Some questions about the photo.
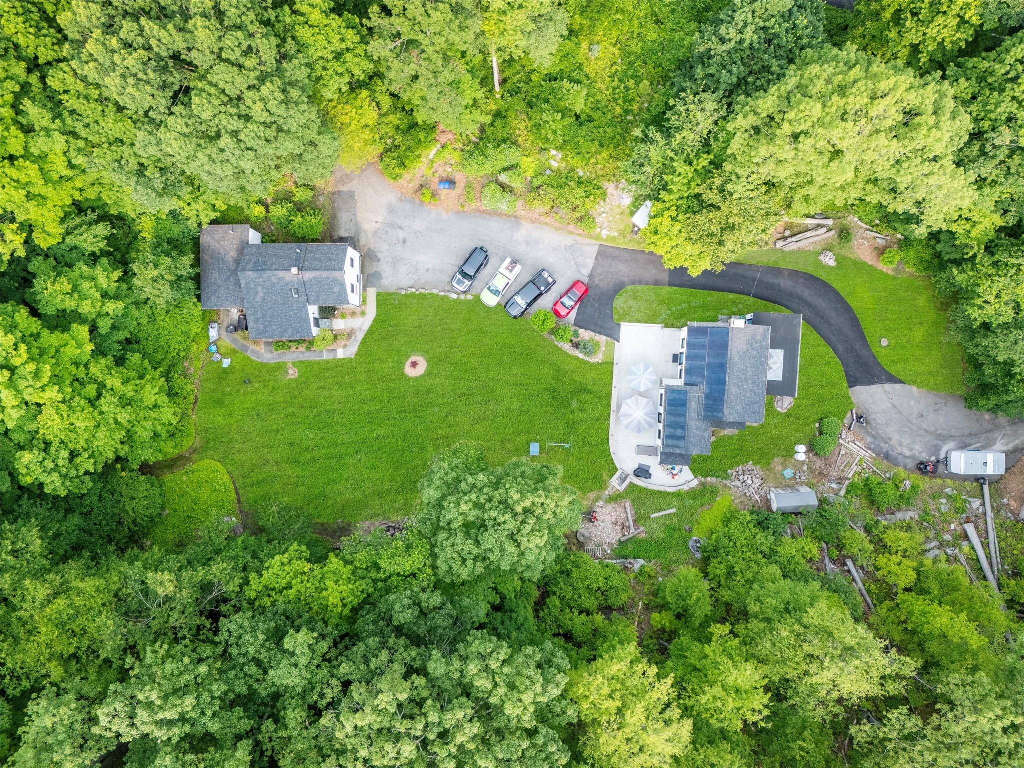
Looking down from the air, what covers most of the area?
trees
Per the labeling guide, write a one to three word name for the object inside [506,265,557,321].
truck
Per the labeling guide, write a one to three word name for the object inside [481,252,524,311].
truck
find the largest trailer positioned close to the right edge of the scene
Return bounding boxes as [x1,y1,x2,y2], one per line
[939,451,1005,475]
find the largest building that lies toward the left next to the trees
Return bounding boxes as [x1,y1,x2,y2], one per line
[195,224,362,340]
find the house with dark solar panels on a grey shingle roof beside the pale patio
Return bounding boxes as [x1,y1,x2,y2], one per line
[656,311,803,466]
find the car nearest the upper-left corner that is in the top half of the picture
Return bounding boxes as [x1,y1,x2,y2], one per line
[455,247,488,291]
